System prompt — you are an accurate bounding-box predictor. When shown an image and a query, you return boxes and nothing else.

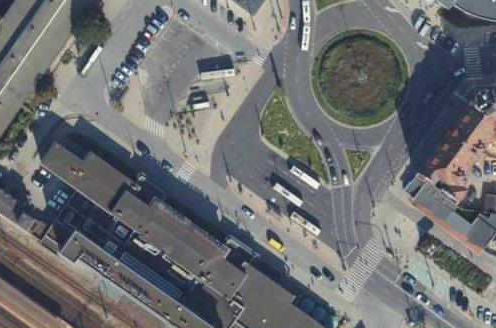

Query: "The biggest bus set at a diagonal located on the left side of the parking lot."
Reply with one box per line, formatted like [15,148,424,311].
[80,45,104,77]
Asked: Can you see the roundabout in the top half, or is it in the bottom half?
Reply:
top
